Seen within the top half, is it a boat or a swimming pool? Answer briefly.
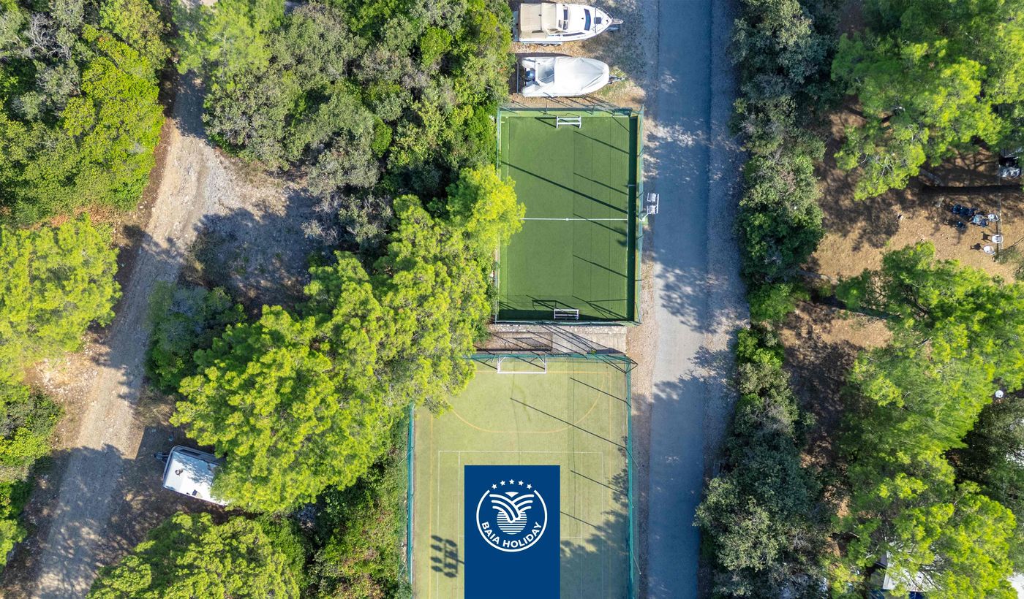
boat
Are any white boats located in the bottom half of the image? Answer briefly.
No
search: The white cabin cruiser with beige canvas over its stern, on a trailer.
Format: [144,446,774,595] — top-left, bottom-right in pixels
[513,4,622,42]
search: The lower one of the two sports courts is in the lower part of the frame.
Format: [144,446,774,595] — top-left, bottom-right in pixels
[412,359,629,599]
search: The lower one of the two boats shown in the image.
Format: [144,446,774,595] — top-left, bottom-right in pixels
[524,58,610,97]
